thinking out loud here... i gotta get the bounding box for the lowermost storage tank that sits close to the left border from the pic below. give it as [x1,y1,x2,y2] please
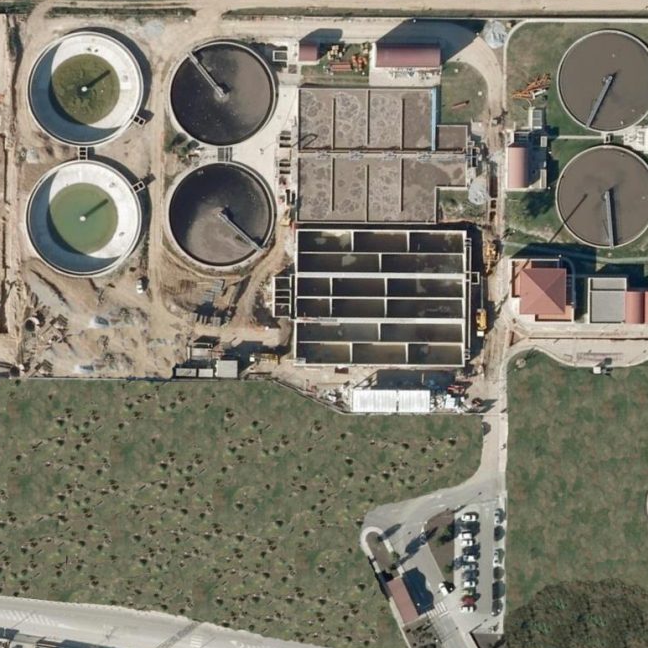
[26,161,142,276]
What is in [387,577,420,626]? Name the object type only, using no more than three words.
building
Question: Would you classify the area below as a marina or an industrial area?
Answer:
industrial area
